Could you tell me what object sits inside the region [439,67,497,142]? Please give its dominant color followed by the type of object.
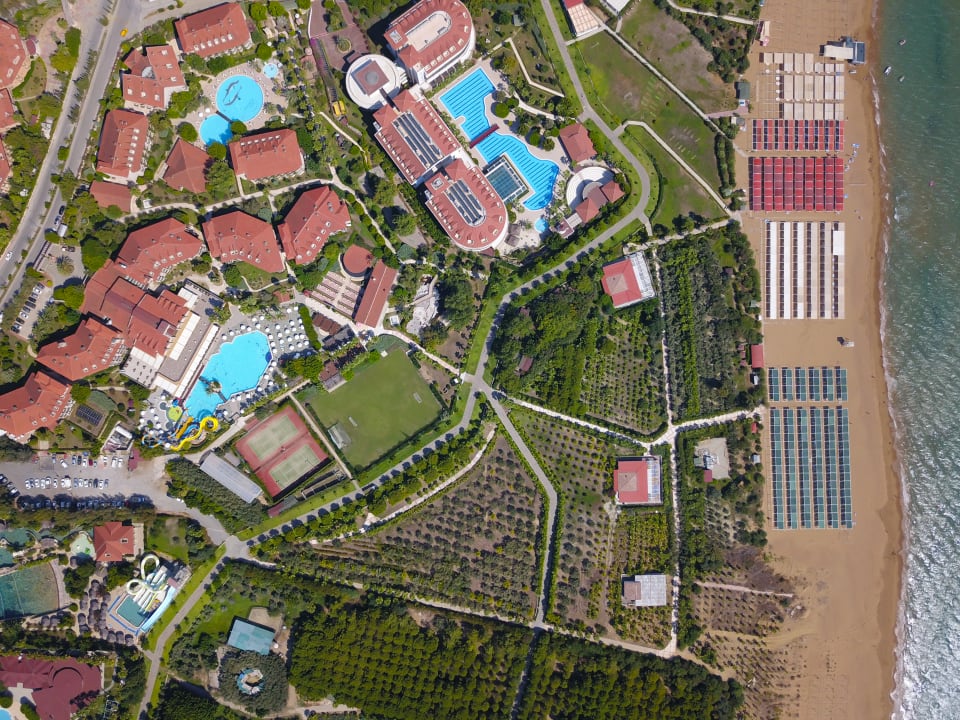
blue swimming pool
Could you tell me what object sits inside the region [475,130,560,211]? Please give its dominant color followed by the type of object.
blue swimming pool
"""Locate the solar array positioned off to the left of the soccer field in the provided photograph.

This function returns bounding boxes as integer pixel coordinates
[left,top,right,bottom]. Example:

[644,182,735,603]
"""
[76,405,103,426]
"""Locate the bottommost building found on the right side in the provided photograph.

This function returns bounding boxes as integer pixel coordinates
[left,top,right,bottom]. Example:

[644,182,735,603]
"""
[622,572,667,607]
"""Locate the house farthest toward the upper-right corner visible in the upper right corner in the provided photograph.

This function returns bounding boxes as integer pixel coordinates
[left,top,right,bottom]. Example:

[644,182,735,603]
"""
[849,42,865,67]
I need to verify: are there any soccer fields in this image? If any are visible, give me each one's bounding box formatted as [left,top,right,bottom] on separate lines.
[312,351,442,470]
